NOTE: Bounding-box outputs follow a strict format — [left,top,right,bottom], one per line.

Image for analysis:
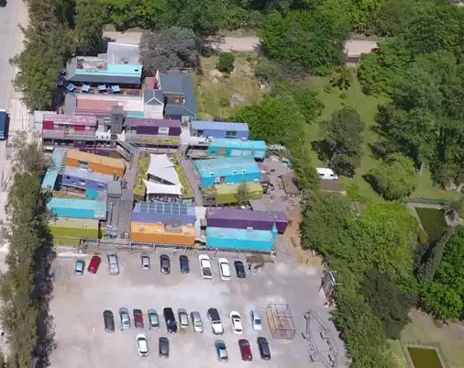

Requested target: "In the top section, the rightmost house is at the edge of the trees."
[158,68,198,128]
